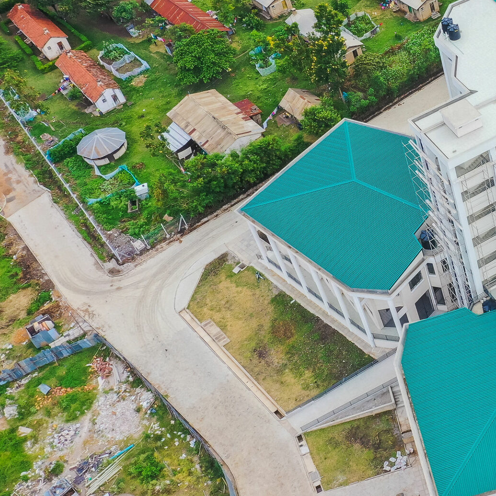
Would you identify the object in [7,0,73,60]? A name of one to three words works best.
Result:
house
